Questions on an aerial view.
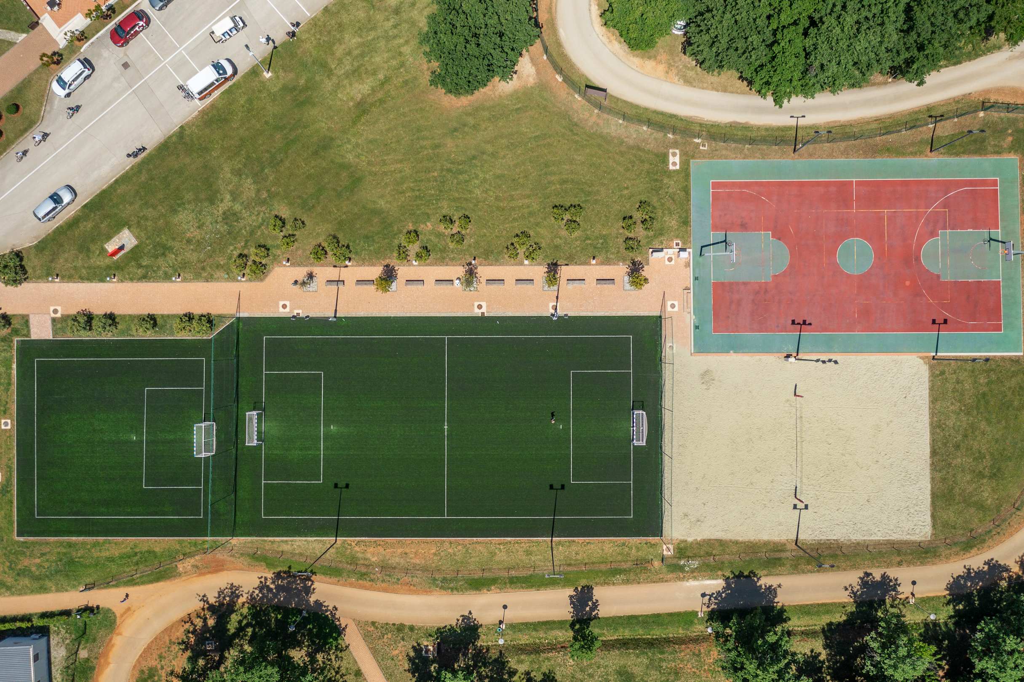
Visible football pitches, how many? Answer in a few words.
2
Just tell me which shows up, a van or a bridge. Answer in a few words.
van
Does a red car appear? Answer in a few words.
Yes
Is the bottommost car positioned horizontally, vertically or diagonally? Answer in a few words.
diagonally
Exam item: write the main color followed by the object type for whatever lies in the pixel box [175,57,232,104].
white van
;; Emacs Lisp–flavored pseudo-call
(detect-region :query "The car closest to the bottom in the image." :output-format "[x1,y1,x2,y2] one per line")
[33,184,81,223]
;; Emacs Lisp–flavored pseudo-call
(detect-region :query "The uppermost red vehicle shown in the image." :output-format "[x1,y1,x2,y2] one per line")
[110,8,152,48]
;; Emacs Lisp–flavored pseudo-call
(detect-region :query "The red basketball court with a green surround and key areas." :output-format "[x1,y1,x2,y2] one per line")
[690,157,1024,356]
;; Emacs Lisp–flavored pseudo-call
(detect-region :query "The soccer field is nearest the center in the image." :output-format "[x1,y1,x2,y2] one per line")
[233,317,662,539]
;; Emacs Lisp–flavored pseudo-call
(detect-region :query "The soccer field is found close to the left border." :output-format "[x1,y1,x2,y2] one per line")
[14,317,237,540]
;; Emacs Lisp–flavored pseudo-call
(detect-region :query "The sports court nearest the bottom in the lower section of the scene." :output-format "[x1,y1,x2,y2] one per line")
[661,347,932,540]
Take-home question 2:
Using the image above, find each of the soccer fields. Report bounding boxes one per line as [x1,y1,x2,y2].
[14,317,237,540]
[233,317,662,539]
